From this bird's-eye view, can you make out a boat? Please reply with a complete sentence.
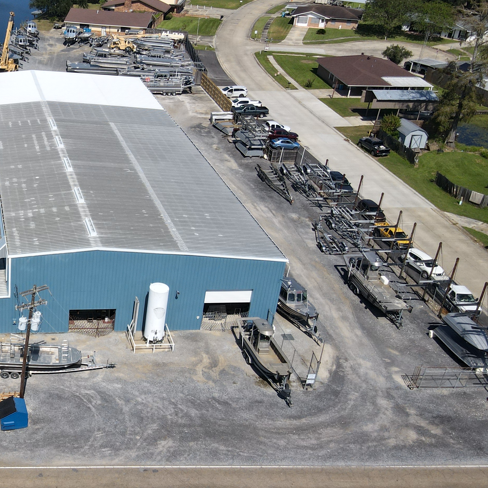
Yes, a boat is visible in the scene.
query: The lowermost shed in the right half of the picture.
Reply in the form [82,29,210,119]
[406,110,435,149]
